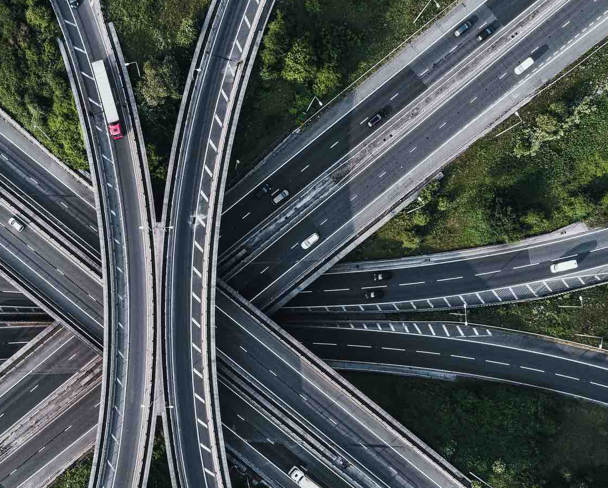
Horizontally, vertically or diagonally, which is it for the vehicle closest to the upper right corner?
diagonally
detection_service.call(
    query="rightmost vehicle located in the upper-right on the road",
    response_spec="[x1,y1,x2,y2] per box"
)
[510,55,537,77]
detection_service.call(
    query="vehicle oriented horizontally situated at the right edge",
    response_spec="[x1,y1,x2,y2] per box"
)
[548,258,579,273]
